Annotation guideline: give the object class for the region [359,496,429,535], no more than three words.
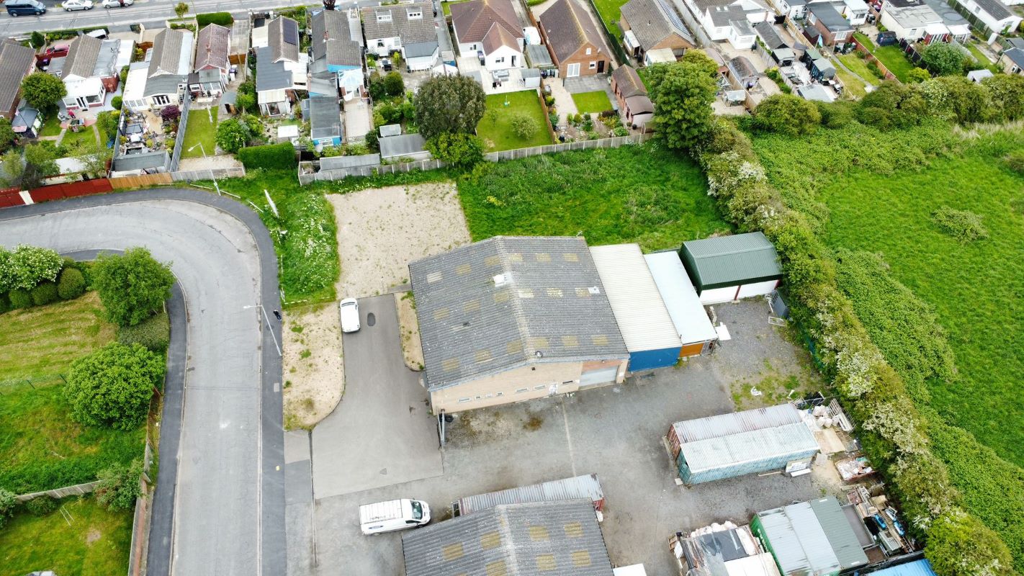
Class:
van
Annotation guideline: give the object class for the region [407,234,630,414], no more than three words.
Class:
warehouse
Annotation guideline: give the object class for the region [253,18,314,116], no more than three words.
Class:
house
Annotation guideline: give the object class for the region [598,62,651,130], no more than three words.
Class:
building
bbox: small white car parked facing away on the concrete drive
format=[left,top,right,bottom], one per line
[339,299,361,335]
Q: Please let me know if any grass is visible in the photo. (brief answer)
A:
Yes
